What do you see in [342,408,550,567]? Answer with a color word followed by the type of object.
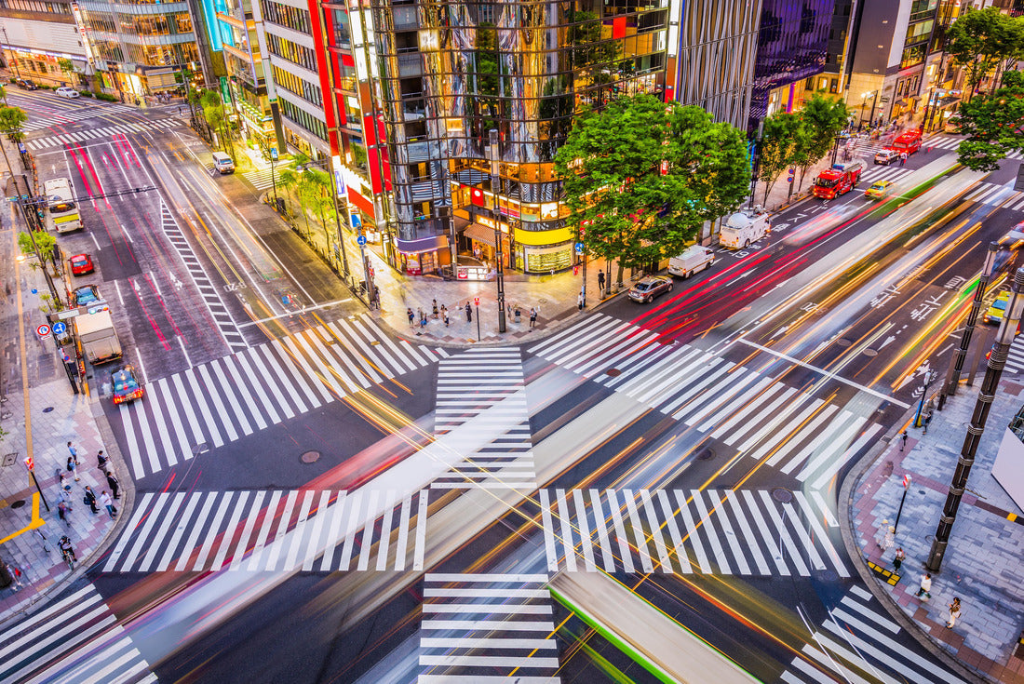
white bus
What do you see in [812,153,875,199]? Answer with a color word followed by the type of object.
red truck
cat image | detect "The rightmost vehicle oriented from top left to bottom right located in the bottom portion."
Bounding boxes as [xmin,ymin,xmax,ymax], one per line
[550,558,725,684]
